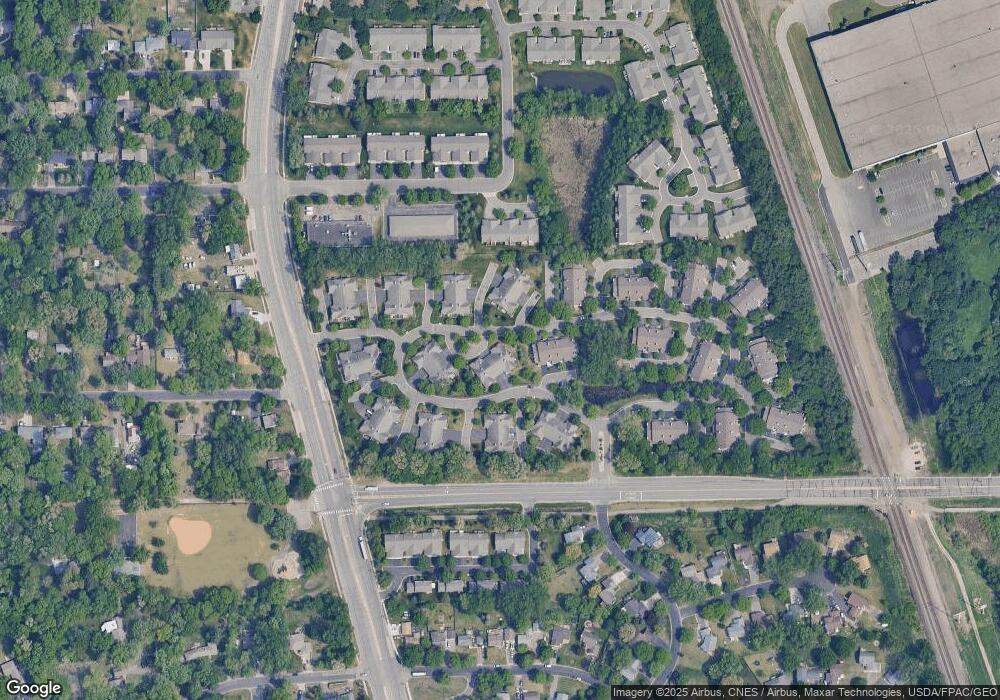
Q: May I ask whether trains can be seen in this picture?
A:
No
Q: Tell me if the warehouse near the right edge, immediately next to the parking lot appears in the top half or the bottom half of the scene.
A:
top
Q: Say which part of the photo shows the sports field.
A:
bottom left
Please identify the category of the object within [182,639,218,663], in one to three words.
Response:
house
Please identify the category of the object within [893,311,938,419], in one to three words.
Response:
pond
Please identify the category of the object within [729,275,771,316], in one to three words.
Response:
house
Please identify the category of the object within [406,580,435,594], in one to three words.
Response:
building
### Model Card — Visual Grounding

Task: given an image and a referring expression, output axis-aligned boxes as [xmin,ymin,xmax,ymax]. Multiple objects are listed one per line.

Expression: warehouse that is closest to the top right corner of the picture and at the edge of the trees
[810,0,1000,182]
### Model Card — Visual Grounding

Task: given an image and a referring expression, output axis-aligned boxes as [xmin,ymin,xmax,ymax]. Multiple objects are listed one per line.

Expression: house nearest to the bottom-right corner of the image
[882,670,909,692]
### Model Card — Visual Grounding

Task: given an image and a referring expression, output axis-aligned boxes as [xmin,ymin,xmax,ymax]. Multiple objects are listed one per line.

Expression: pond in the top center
[536,70,616,97]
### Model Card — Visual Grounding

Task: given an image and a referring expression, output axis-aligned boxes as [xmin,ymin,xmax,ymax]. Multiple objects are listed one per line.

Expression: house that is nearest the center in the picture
[468,339,518,390]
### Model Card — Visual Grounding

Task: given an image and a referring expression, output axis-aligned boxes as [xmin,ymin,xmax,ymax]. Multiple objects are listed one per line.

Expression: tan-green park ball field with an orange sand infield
[141,504,271,590]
